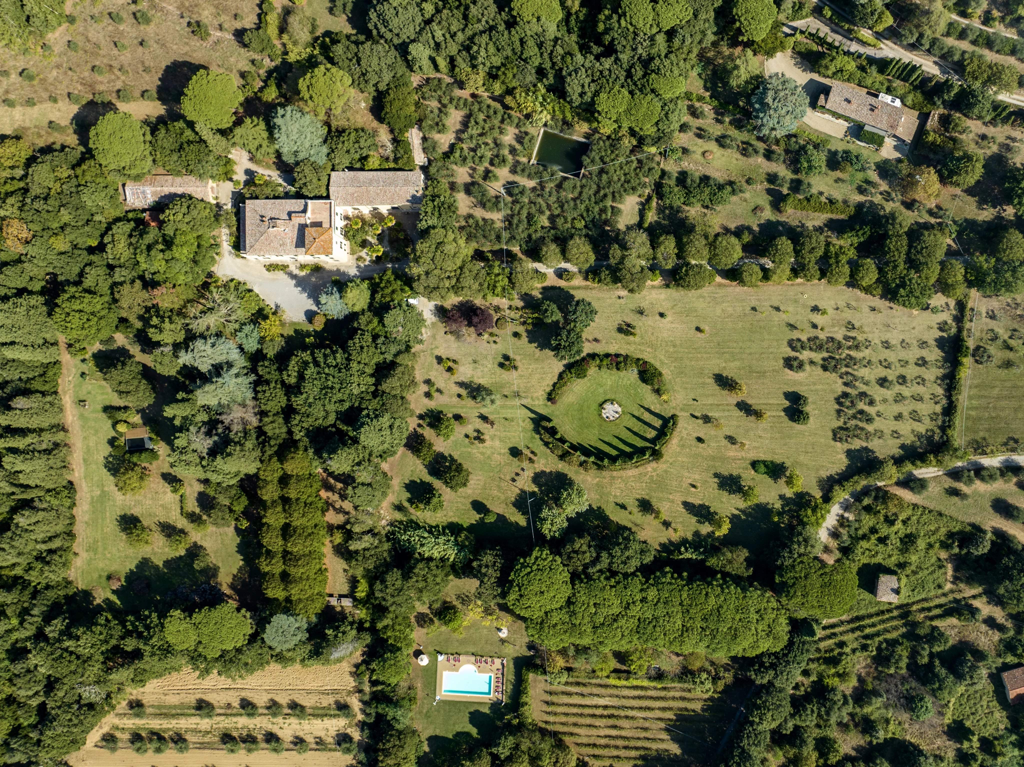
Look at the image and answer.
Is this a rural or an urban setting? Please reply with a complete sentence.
The area shown here is rural.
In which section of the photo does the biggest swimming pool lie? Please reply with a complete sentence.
You can find the biggest swimming pool in the bottom area of the picture.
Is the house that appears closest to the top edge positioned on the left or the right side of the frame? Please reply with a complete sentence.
The house that appears closest to the top edge is on the right side of the image.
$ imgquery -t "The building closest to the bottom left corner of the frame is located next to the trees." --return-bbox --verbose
[126,423,158,452]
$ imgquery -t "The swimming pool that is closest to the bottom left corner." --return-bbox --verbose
[437,653,507,705]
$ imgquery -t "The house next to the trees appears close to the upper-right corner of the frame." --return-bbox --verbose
[816,82,919,145]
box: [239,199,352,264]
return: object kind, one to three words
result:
house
